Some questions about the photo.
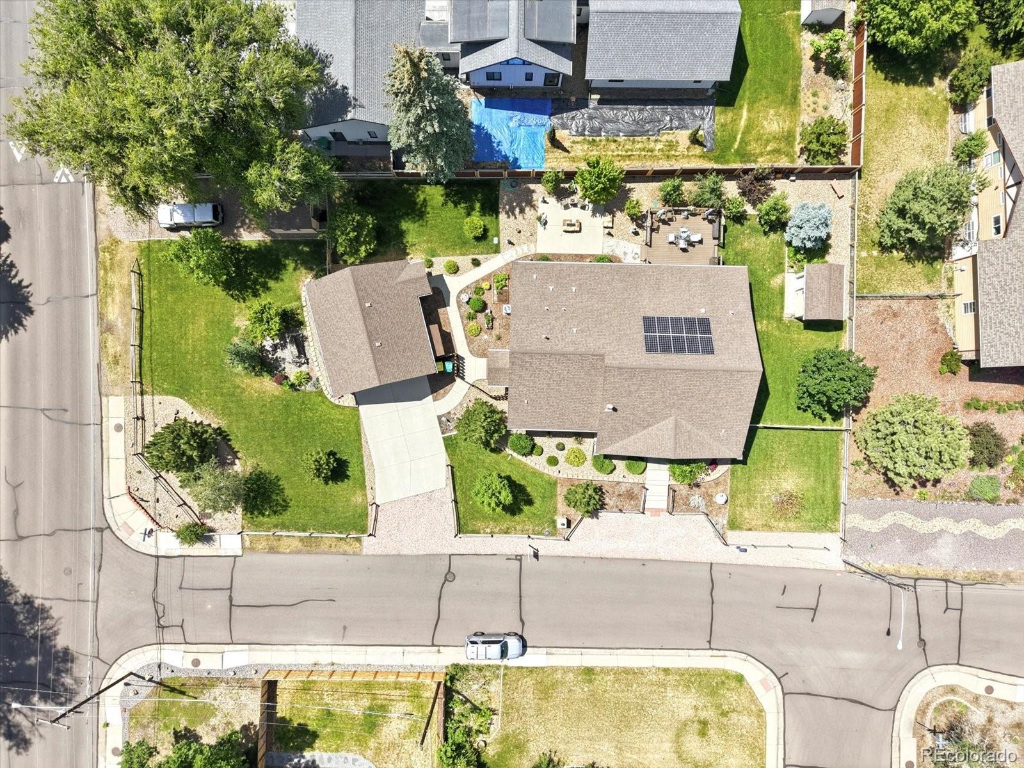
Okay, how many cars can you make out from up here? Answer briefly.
2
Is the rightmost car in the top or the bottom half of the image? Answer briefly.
bottom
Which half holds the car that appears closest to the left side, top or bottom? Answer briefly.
top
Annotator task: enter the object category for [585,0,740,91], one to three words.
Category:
barn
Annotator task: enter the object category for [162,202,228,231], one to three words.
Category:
car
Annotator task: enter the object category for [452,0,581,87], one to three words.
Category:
house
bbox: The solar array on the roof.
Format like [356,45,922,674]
[643,315,714,353]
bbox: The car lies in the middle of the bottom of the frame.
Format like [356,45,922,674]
[464,632,524,664]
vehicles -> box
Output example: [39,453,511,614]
[464,632,524,664]
[162,202,228,231]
